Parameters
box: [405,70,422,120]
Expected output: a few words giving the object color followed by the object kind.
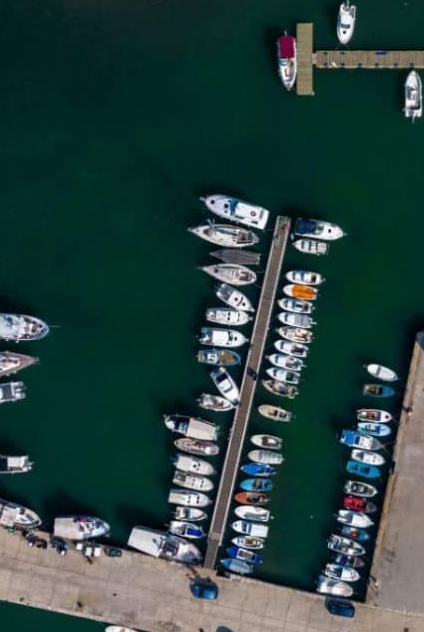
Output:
white boat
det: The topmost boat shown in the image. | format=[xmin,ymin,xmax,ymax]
[338,0,357,44]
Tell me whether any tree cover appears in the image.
No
